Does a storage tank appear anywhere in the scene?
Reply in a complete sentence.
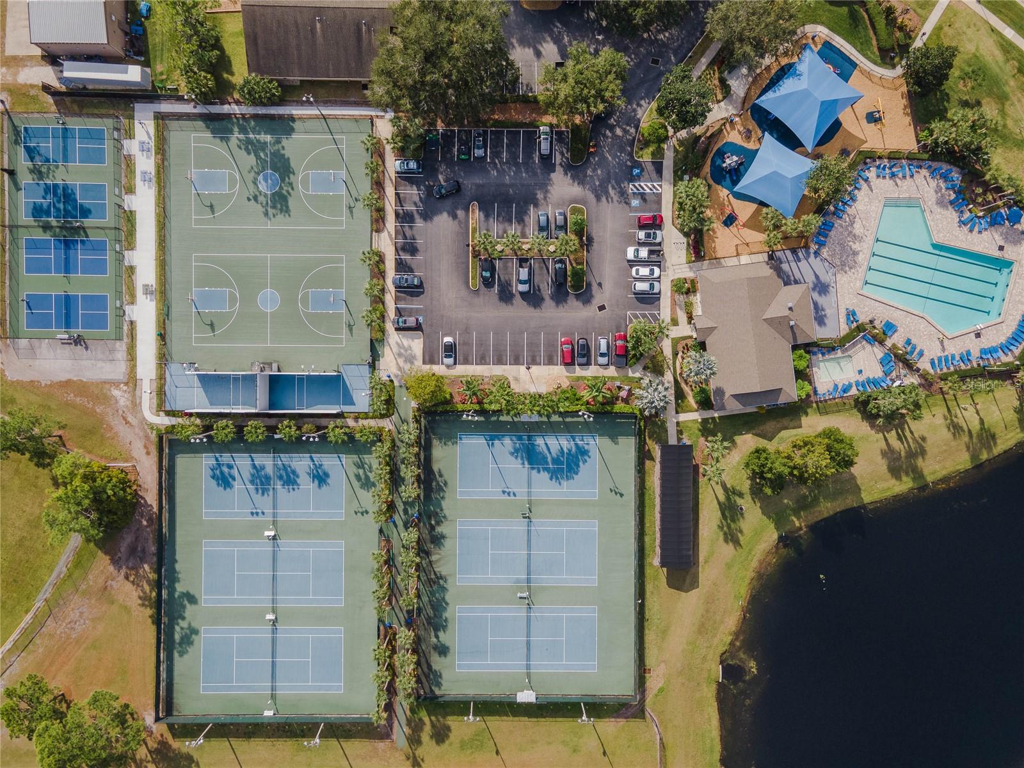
No, no storage tank can be seen from above.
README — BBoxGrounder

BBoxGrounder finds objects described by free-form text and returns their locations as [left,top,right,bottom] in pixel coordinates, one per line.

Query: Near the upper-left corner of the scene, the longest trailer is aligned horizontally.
[53,60,144,87]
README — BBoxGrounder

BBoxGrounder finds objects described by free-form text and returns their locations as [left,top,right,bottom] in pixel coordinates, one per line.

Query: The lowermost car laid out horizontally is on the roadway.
[393,316,421,329]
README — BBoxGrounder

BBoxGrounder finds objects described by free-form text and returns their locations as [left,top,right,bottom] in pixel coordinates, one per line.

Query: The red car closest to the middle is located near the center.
[561,338,574,365]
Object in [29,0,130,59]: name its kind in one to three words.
building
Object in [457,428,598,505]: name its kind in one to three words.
tennis court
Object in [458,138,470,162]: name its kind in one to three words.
vehicle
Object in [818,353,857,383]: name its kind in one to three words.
swimming pool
